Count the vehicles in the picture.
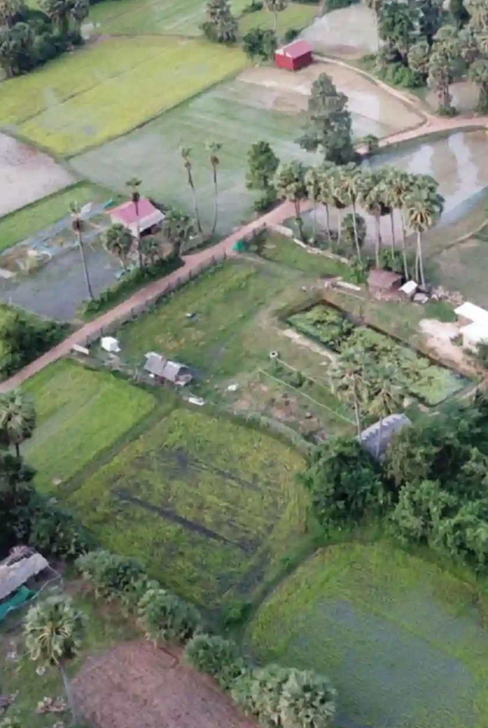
0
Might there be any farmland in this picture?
Yes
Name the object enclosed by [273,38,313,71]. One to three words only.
building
